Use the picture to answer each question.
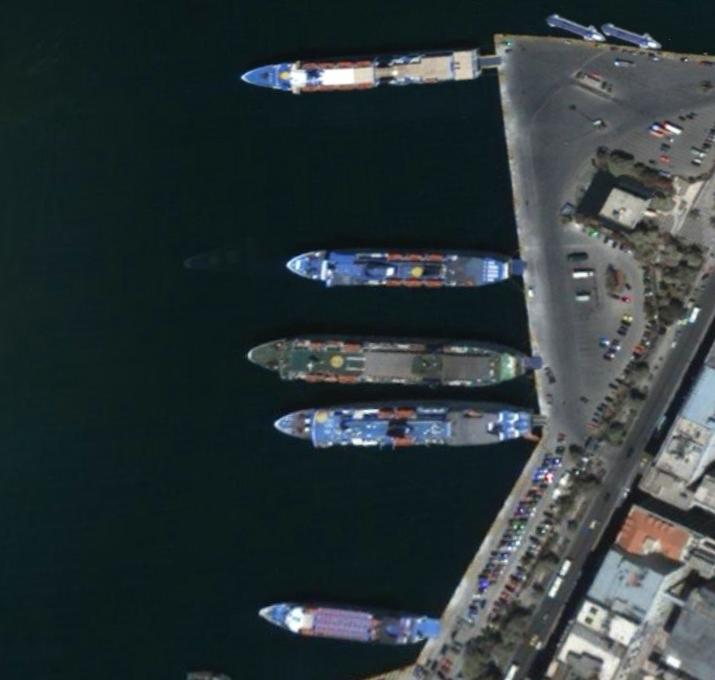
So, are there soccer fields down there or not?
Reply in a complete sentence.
No, the photo shows no soccer field.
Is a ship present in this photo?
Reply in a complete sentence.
Yes, looking at the shot, I can spot a ship.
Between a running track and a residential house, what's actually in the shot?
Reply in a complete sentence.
The image shows a residential house.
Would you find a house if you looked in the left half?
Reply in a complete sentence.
No, no house can be made out in the left half.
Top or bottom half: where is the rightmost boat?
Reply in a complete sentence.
The rightmost boat is in the top half of the image.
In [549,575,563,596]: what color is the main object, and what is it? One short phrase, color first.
white vehicle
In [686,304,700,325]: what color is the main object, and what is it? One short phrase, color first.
white vehicle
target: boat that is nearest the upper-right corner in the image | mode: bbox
[600,23,661,47]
